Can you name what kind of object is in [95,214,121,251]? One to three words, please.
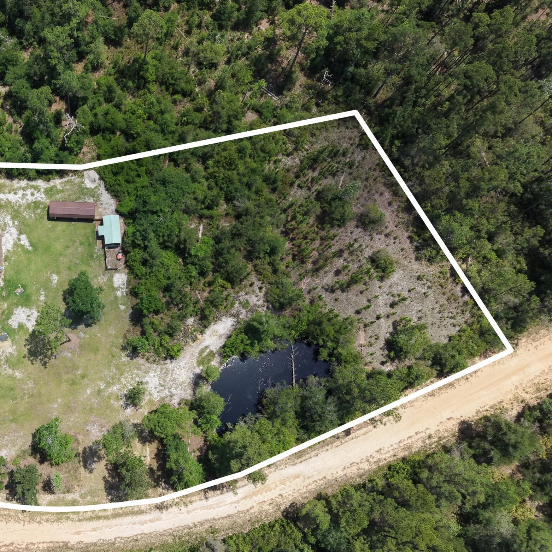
shed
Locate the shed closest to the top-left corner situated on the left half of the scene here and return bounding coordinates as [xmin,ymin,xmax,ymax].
[50,201,96,219]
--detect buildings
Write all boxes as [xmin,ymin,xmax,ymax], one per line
[50,201,96,219]
[95,214,121,251]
